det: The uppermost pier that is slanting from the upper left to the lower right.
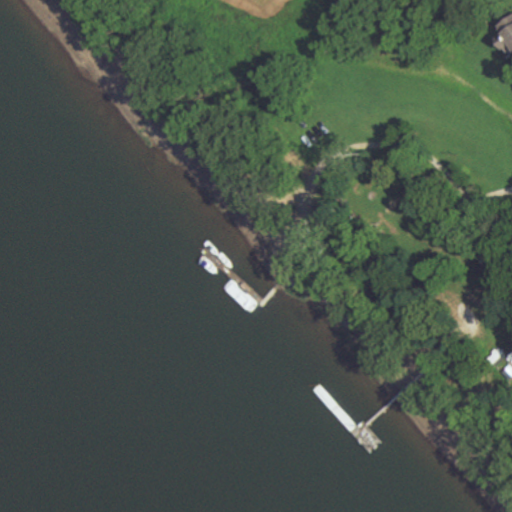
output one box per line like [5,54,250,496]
[201,248,262,306]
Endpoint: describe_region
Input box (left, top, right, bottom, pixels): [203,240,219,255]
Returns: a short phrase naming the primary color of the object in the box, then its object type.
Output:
white boat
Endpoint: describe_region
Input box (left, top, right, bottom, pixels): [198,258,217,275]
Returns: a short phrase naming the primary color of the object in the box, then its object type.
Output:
white boat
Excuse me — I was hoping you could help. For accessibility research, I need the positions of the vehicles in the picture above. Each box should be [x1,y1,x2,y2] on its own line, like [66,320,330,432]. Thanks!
[301,136,312,147]
[306,131,317,142]
[465,310,474,323]
[312,126,322,137]
[316,121,329,134]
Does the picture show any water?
Yes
